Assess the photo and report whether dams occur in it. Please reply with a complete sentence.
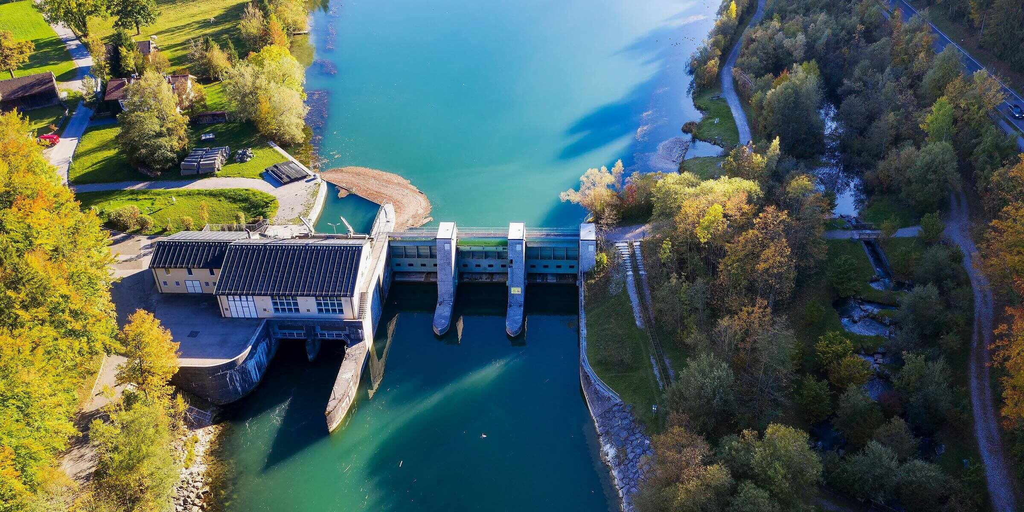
Yes, there is a dam in the image.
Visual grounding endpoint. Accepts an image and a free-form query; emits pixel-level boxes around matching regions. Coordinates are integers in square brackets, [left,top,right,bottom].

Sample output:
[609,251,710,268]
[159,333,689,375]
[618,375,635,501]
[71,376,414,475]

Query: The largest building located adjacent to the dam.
[212,238,380,361]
